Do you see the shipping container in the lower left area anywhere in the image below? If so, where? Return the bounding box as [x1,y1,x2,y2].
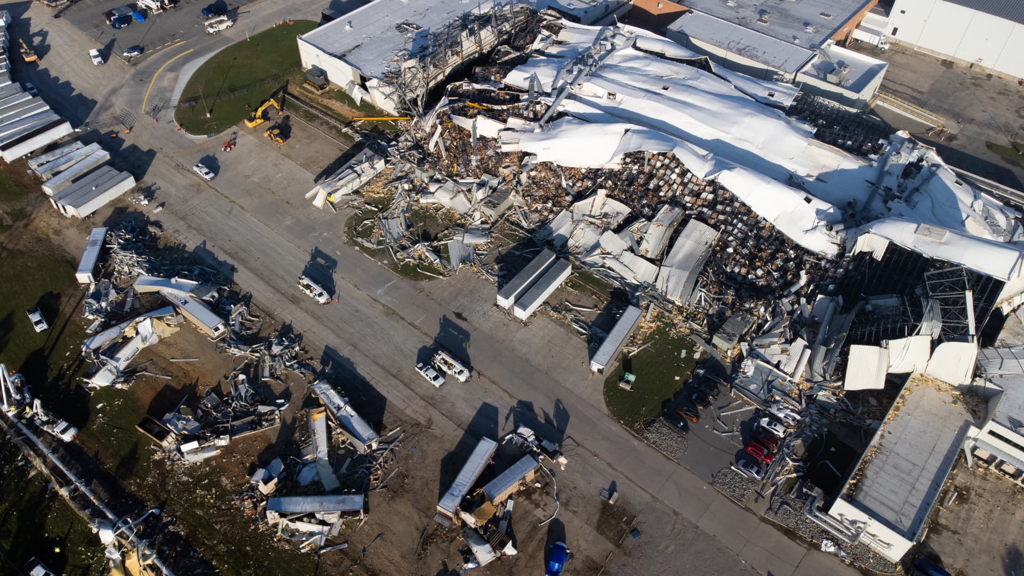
[135,415,175,447]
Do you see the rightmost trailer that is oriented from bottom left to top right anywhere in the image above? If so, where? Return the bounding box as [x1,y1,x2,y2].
[591,305,642,375]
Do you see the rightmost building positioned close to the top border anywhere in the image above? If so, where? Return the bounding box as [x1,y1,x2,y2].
[883,0,1024,76]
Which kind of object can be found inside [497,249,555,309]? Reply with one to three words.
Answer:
trailer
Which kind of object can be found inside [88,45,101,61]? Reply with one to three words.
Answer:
vehicle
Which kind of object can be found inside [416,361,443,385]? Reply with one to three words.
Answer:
truck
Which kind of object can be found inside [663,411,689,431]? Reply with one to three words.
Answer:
car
